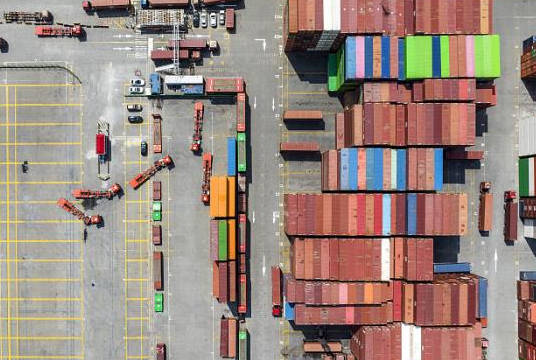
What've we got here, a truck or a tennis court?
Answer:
truck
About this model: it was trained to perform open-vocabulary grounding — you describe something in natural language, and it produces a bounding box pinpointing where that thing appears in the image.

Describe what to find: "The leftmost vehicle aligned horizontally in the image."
[3,10,53,22]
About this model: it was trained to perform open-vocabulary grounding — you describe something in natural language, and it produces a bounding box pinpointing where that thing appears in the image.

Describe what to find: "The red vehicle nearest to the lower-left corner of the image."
[58,198,103,226]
